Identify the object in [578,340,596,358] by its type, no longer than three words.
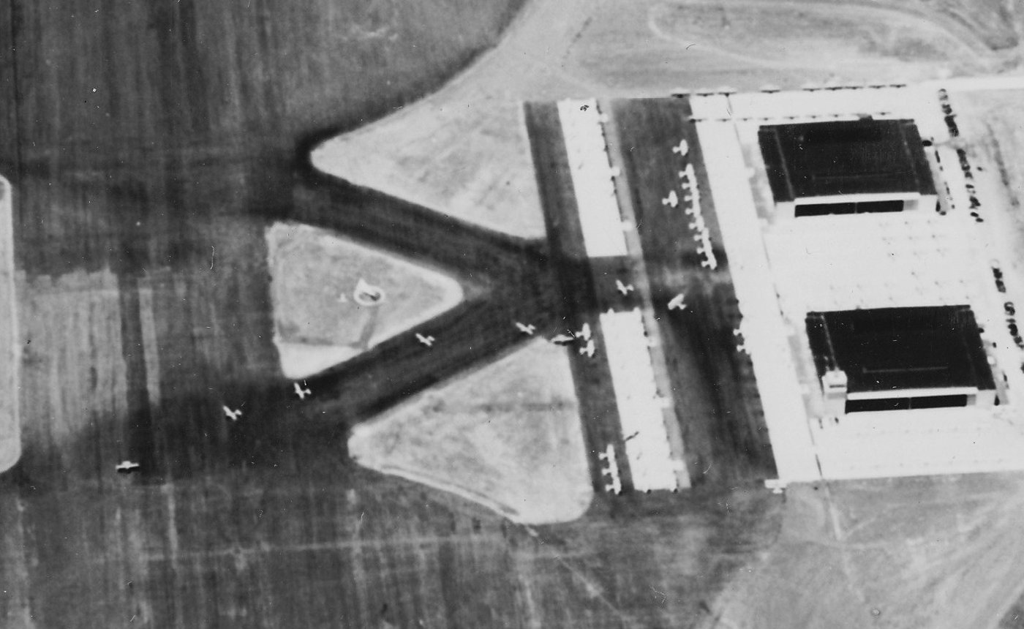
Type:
airplane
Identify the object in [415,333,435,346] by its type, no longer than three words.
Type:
airplane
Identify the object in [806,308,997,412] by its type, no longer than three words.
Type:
hangar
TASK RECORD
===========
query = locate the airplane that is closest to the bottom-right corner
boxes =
[765,481,787,497]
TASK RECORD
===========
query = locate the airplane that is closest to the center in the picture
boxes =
[516,322,535,335]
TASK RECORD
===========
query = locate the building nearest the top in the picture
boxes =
[759,121,938,218]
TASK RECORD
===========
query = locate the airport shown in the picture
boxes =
[266,77,1024,524]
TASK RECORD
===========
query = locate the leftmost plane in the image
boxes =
[117,458,139,472]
